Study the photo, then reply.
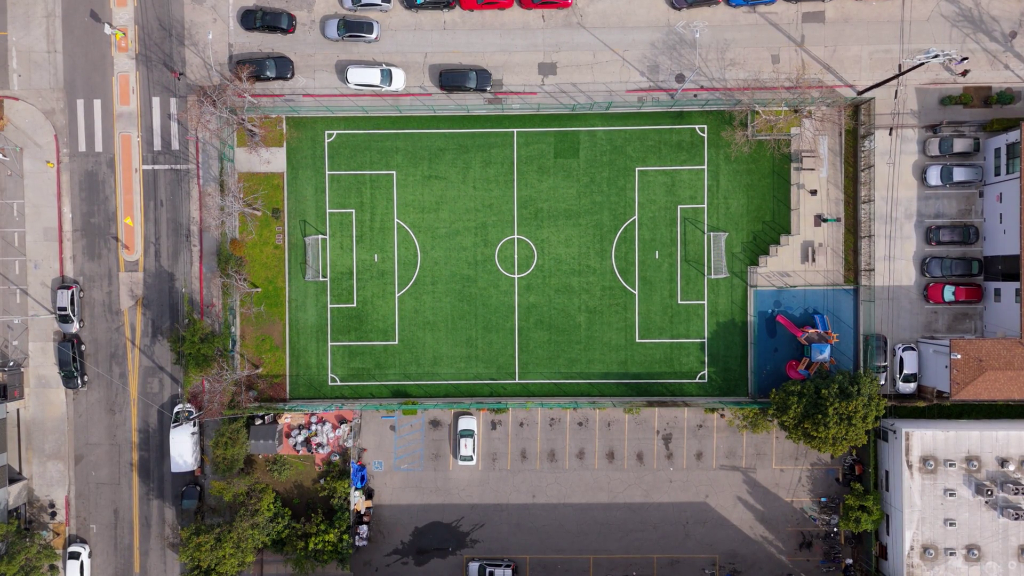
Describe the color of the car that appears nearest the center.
white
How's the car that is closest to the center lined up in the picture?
vertically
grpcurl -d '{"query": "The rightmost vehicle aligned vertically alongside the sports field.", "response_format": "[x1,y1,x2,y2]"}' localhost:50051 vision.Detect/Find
[455,416,478,465]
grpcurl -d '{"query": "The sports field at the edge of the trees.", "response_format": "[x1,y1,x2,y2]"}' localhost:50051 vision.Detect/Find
[242,107,791,399]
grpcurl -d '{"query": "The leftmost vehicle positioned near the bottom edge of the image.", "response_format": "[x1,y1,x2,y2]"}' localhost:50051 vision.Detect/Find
[66,541,94,576]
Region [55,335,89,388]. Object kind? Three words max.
car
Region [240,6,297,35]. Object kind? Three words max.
car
